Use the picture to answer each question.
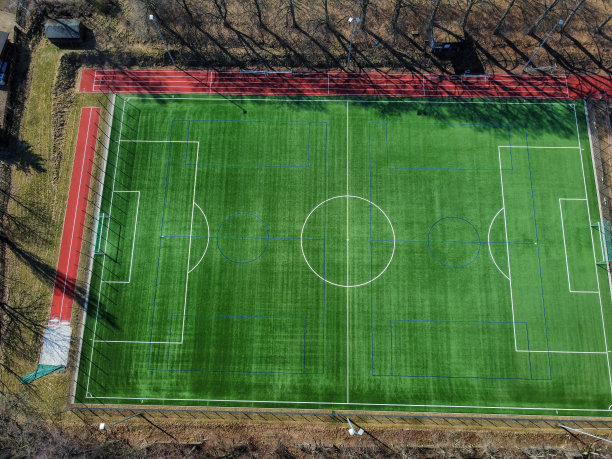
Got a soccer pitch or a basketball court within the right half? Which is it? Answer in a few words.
soccer pitch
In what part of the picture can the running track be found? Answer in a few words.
top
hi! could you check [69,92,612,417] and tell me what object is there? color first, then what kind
green soccer field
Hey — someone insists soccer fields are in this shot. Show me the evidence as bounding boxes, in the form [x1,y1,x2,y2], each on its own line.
[69,92,612,417]
[148,120,327,374]
[369,123,551,380]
